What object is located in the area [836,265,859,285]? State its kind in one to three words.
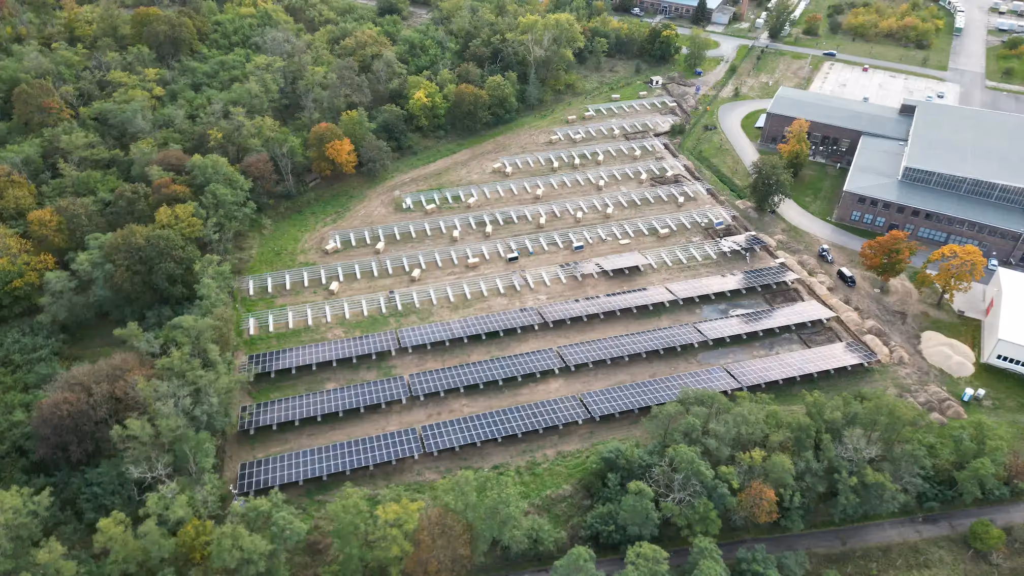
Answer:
vehicle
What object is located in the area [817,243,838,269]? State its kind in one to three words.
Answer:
work vehicle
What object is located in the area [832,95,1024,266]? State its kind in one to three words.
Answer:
building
